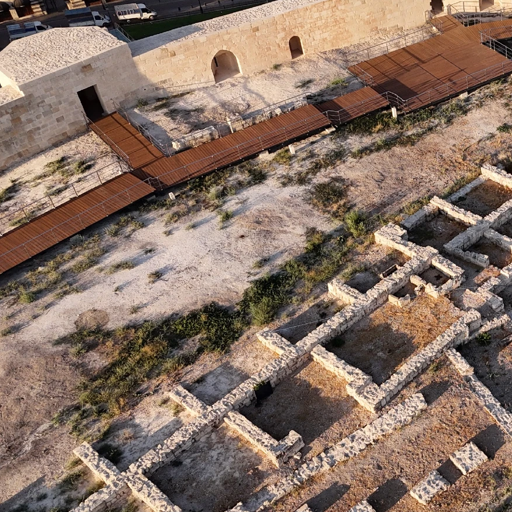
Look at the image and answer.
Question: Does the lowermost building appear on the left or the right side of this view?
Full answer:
The lowermost building appears in the left half of the scene.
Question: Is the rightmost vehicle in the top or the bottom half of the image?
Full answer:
Seen from above, the rightmost vehicle lies in the top half of the view.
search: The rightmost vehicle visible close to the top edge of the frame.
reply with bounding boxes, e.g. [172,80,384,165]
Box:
[110,0,156,21]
